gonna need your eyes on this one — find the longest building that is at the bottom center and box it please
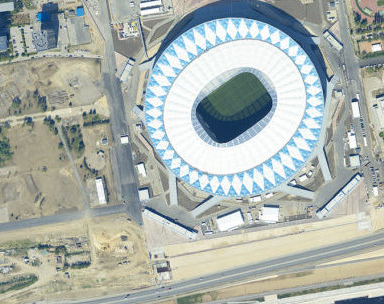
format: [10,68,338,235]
[143,207,197,239]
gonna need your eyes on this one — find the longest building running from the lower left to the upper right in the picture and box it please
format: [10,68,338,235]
[317,173,362,218]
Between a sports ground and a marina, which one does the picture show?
sports ground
